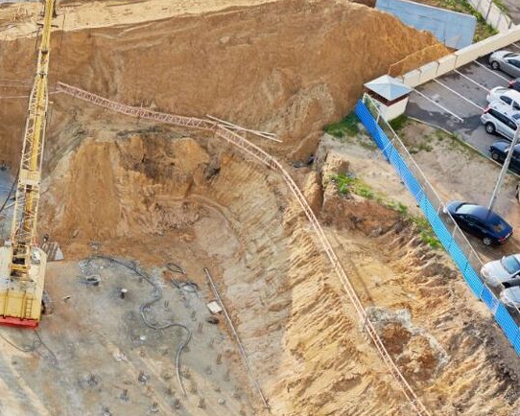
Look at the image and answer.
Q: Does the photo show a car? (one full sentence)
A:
Yes, I can see a car in this picture.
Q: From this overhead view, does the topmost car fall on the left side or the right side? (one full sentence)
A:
The topmost car sits on the right side.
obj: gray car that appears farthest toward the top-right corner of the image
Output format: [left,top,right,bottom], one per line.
[486,47,520,74]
